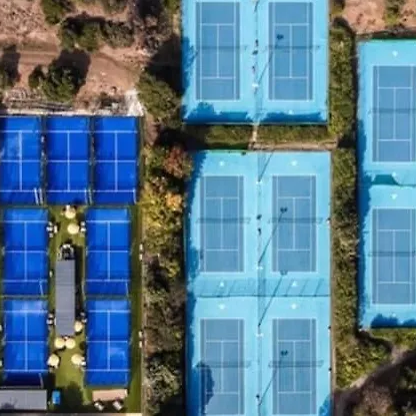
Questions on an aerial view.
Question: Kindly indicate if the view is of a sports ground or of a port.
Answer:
sports ground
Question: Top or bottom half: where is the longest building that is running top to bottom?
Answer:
bottom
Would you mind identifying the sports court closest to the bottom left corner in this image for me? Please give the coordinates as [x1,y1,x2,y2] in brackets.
[0,300,48,393]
